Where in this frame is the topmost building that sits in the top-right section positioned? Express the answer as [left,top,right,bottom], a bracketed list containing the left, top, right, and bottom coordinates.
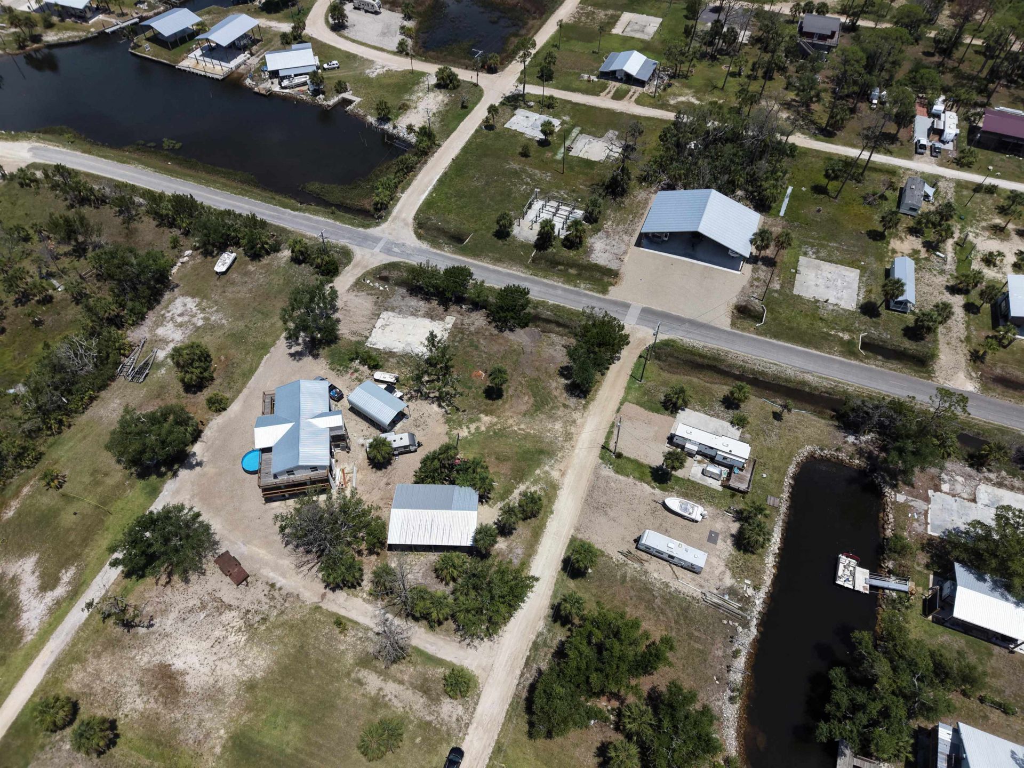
[788,13,839,65]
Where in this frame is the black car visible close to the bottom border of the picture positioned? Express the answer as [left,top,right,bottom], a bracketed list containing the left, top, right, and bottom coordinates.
[443,743,467,768]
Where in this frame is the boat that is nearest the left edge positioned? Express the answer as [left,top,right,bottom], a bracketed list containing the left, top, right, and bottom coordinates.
[214,249,235,280]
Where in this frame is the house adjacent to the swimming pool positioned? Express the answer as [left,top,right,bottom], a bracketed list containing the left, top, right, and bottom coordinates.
[254,380,351,504]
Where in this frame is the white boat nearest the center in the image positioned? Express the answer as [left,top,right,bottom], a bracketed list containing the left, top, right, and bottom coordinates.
[370,372,401,384]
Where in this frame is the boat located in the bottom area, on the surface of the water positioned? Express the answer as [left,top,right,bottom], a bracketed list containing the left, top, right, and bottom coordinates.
[831,549,858,593]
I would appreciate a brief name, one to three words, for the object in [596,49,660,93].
house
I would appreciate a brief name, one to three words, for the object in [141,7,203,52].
building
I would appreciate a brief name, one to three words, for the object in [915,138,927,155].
vehicle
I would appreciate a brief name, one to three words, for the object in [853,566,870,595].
pier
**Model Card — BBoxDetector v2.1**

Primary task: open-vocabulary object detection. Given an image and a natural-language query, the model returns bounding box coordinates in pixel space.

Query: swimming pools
[237,448,265,476]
